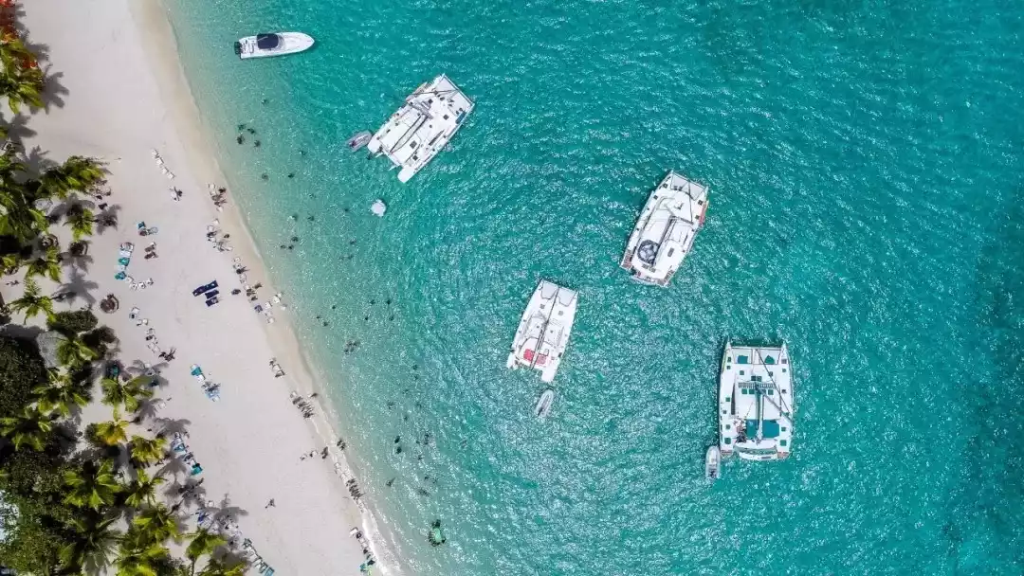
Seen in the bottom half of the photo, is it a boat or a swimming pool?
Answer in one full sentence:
Visible in the bottom half of the photo is a boat.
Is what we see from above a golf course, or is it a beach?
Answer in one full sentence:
It's a beach.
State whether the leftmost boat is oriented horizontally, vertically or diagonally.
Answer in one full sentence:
In this picture, the leftmost boat lies horizontally.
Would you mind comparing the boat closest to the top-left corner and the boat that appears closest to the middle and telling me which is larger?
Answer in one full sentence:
The boat that appears closest to the middle takes up more space than the boat closest to the top-left corner does.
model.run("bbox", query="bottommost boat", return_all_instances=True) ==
[706,446,721,483]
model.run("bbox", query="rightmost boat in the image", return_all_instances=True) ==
[718,327,795,459]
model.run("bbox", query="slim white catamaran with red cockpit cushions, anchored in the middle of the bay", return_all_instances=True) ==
[509,272,577,380]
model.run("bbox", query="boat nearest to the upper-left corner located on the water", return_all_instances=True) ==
[233,32,314,59]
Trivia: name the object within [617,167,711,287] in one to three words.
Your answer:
boat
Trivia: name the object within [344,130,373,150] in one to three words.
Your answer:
boat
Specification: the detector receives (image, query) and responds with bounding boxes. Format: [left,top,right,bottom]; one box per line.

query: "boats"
[718,327,795,459]
[617,167,711,287]
[534,389,551,420]
[370,73,474,181]
[701,201,707,225]
[233,32,314,59]
[509,272,577,380]
[706,446,721,483]
[344,130,373,150]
